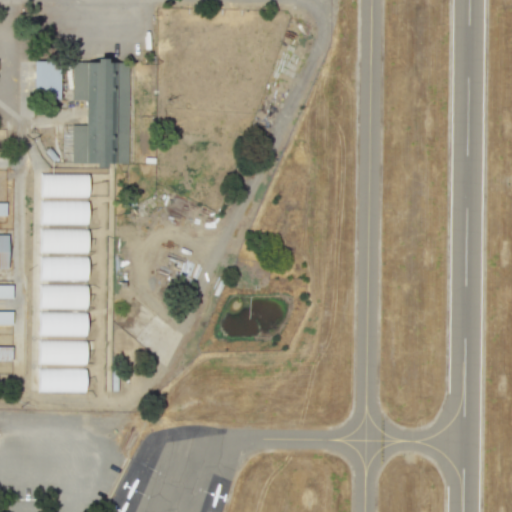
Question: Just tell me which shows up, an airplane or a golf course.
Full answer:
I can see an airplane in this picture.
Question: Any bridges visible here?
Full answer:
No, no bridge can be seen from above.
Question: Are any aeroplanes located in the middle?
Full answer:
No, the scene shows no aeroplane in the middle.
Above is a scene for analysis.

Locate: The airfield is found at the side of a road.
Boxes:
[110,0,490,512]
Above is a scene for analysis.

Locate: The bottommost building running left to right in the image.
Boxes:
[38,369,93,394]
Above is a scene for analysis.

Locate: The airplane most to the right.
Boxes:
[212,484,229,508]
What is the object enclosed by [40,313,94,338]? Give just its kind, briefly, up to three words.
barn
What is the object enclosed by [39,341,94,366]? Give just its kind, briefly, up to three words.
barn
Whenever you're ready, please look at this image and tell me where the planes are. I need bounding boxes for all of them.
[212,484,229,508]
[121,479,140,502]
[112,501,130,512]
